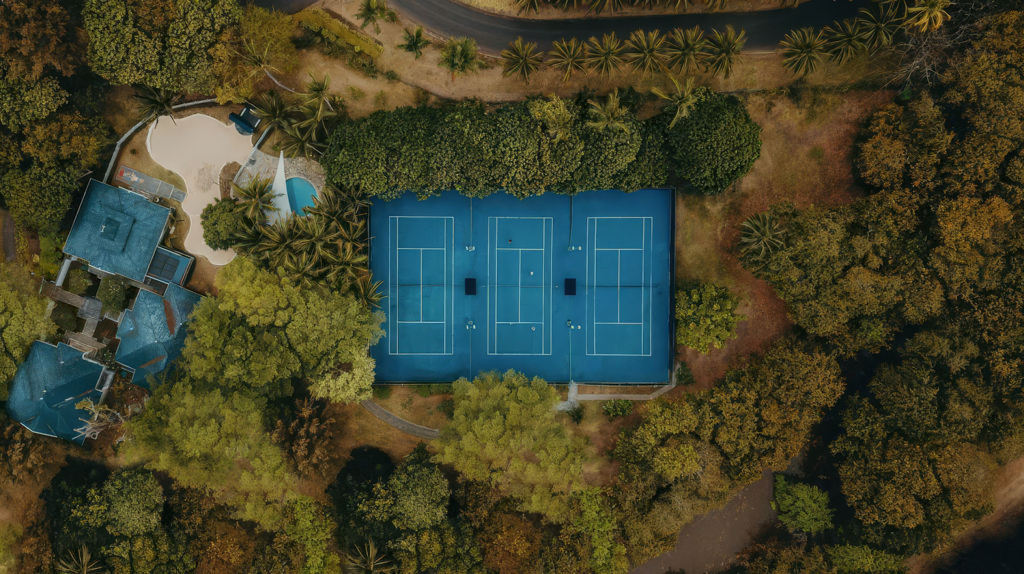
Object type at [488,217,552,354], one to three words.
tennis court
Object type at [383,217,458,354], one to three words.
tennis court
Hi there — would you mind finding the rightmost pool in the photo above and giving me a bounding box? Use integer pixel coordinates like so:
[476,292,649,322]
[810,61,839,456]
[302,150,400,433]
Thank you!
[286,175,320,218]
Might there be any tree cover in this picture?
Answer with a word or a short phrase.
Yes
